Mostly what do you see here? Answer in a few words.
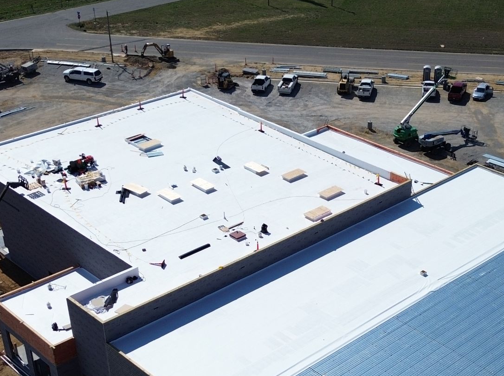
buildings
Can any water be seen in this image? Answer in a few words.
No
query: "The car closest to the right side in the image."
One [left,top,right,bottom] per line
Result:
[471,85,491,101]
